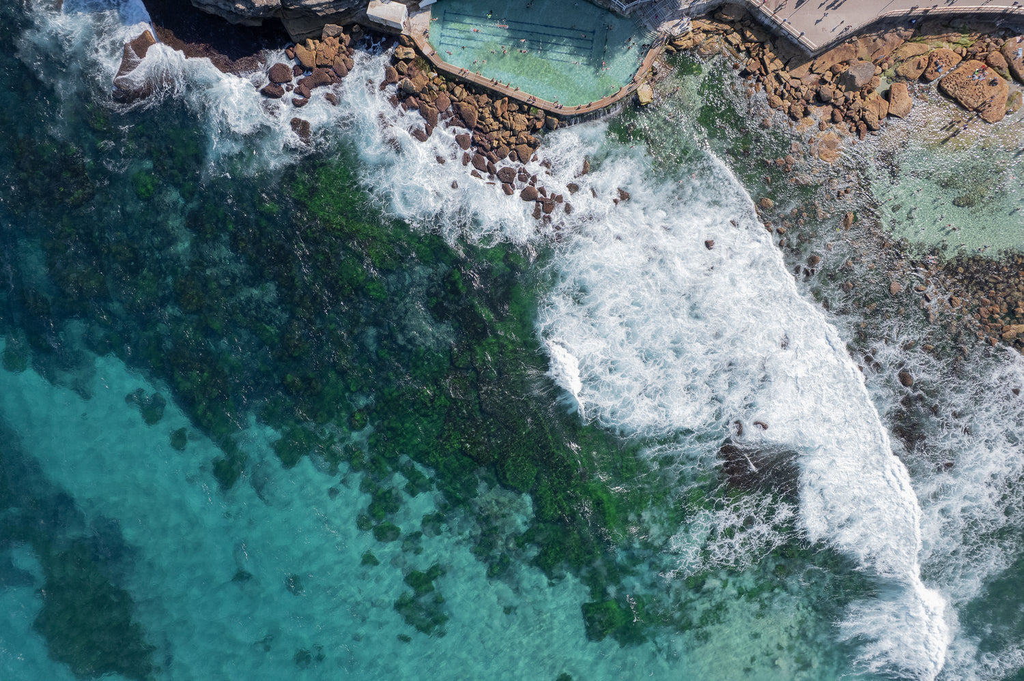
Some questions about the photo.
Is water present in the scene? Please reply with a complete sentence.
Yes, there's water in this view.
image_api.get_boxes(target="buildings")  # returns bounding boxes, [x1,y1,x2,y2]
[367,0,410,34]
